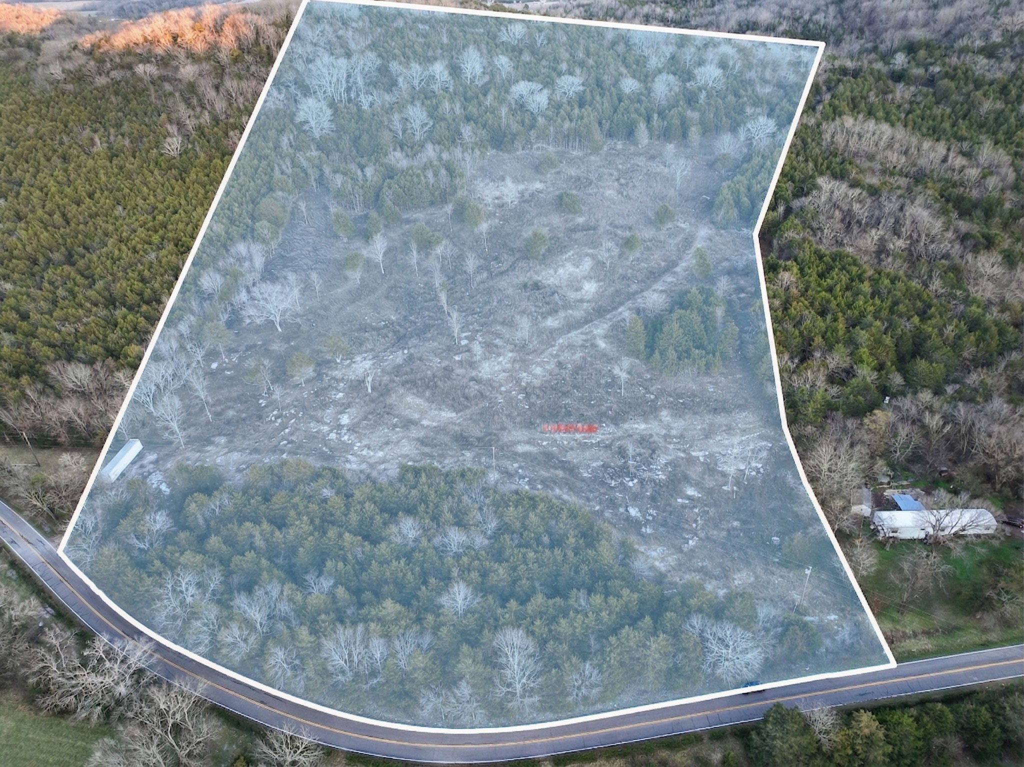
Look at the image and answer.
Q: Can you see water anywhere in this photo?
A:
No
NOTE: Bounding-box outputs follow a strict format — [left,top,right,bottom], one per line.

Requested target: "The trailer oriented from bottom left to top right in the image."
[99,440,143,480]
